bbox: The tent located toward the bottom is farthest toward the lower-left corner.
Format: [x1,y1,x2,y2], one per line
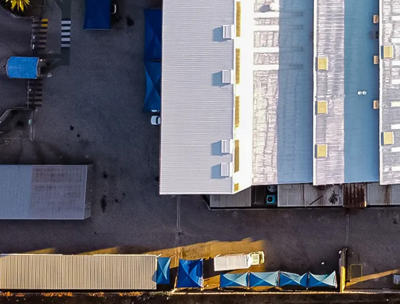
[158,253,178,285]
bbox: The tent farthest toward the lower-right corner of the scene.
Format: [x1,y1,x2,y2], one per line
[308,267,336,287]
